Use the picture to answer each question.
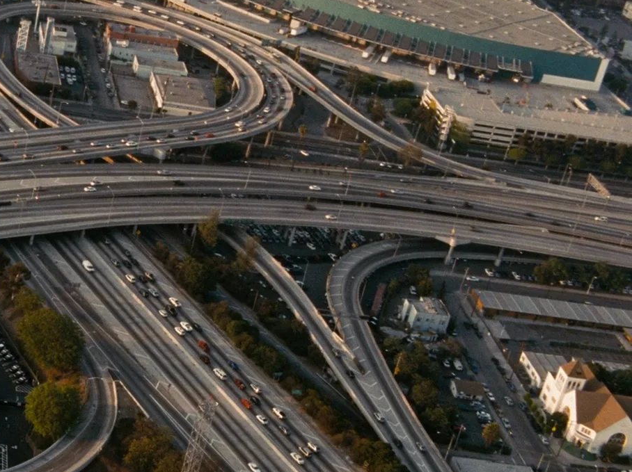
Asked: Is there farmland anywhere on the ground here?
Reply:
No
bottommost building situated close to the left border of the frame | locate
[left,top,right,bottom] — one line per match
[14,52,61,96]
